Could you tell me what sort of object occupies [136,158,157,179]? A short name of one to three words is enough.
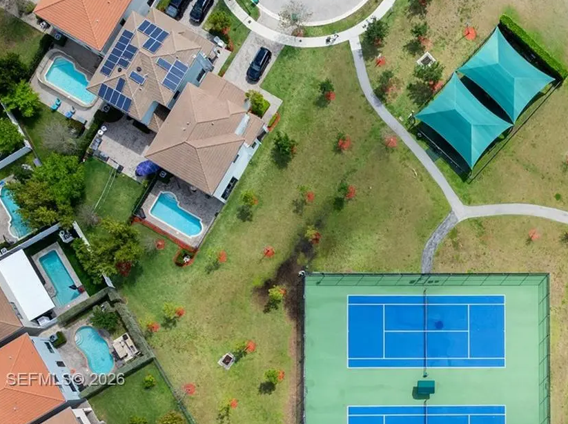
umbrella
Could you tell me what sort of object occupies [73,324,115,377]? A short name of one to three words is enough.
swimming pool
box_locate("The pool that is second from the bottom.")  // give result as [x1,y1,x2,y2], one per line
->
[36,247,84,309]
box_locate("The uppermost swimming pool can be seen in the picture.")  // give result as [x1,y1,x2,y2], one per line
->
[40,51,102,110]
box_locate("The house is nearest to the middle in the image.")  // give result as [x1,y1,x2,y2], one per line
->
[144,72,266,201]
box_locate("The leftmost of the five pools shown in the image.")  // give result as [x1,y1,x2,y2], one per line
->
[0,183,28,238]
